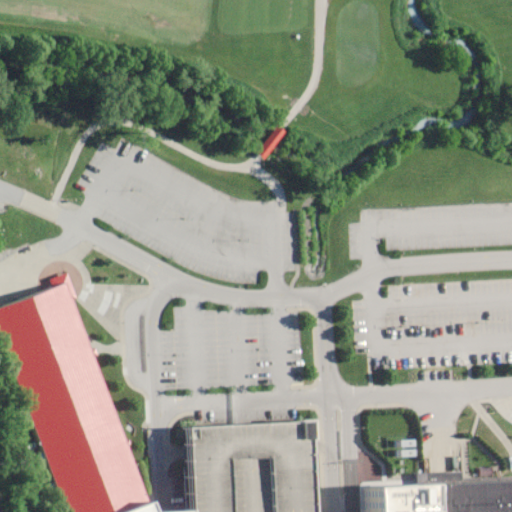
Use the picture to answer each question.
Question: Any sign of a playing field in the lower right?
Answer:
No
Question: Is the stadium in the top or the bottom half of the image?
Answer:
bottom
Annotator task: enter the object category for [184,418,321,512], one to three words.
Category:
building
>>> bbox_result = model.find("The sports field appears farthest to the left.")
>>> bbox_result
[0,0,212,44]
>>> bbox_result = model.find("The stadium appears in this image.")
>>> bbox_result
[0,272,148,512]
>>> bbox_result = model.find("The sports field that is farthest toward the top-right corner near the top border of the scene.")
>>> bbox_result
[336,0,380,86]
